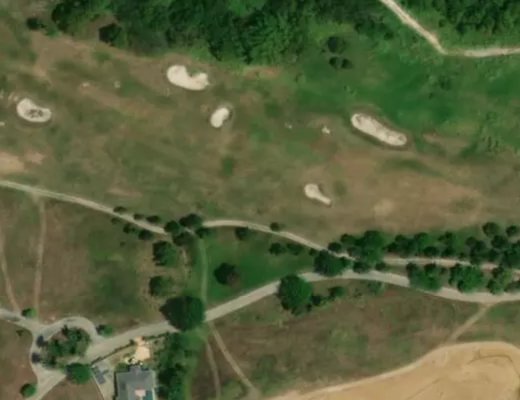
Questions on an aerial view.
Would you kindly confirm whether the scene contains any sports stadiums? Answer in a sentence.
No, there appears to be no sports stadium in this shot.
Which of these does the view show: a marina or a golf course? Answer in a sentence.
The picture captures a golf course.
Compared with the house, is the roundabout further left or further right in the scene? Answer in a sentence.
Looking at the photo, the roundabout lies to the left of the house.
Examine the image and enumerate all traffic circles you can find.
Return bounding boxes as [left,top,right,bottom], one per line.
[25,317,113,400]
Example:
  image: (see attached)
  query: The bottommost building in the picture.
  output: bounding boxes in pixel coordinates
[116,366,154,400]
